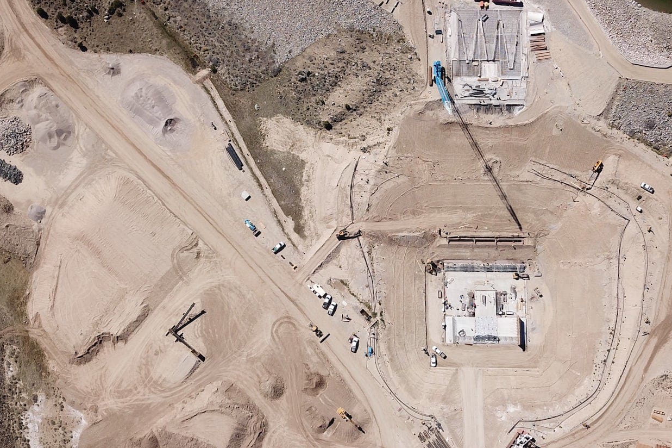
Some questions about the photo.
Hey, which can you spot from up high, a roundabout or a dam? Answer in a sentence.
I can see a dam in this picture.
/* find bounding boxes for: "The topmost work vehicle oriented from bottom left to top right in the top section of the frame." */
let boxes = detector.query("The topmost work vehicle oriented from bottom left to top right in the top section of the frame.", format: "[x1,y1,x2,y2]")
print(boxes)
[579,158,605,194]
